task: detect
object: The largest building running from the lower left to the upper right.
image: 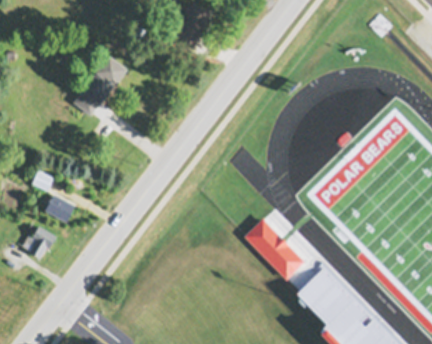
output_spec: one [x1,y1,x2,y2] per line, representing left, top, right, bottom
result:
[72,58,128,117]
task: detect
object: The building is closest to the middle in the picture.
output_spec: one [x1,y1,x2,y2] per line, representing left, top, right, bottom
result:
[244,220,304,280]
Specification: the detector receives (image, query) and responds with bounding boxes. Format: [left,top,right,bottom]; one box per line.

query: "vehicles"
[10,250,21,258]
[112,214,122,226]
[4,260,14,269]
[104,126,112,136]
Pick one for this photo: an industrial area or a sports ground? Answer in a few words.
sports ground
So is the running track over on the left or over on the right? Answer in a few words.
right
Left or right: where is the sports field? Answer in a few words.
right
